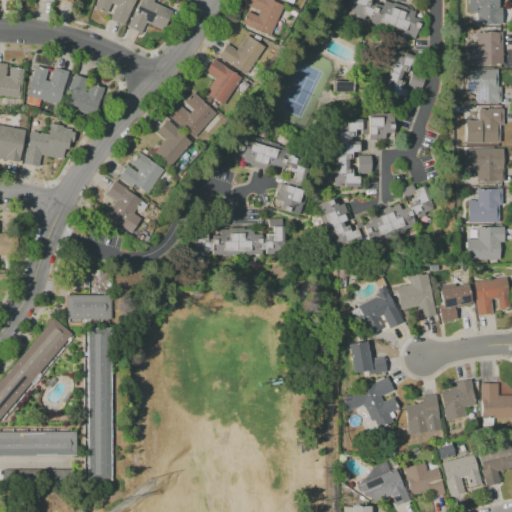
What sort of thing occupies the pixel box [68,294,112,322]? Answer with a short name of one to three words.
building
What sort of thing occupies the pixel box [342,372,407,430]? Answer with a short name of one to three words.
house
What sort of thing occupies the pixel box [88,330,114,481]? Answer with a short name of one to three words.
building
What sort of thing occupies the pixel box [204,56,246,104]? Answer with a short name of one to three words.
house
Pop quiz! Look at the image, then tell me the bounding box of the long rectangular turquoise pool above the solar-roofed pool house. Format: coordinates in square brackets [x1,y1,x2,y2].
[328,41,354,61]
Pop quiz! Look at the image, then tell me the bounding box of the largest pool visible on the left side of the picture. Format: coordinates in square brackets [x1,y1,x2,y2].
[48,378,68,404]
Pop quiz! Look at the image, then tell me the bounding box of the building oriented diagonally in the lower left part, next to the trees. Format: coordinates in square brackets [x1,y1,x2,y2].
[0,322,72,424]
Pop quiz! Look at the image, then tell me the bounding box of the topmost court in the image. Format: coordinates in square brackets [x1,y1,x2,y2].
[282,56,332,126]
